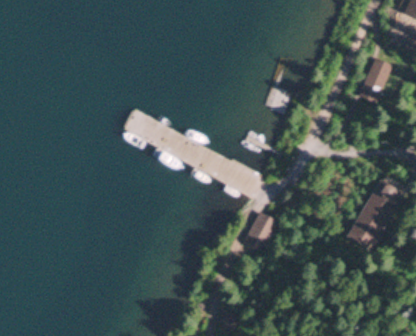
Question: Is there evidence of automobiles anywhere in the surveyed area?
No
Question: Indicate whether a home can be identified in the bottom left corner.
No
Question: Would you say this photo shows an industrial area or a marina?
marina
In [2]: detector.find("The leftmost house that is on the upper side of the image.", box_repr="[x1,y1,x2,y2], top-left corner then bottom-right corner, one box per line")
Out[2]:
[366,58,393,92]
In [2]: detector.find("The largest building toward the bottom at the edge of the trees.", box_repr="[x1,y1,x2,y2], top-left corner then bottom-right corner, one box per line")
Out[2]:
[350,183,400,246]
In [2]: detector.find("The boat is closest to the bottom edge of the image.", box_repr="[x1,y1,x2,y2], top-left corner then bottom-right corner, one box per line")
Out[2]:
[222,184,240,197]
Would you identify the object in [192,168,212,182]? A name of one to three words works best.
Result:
boat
